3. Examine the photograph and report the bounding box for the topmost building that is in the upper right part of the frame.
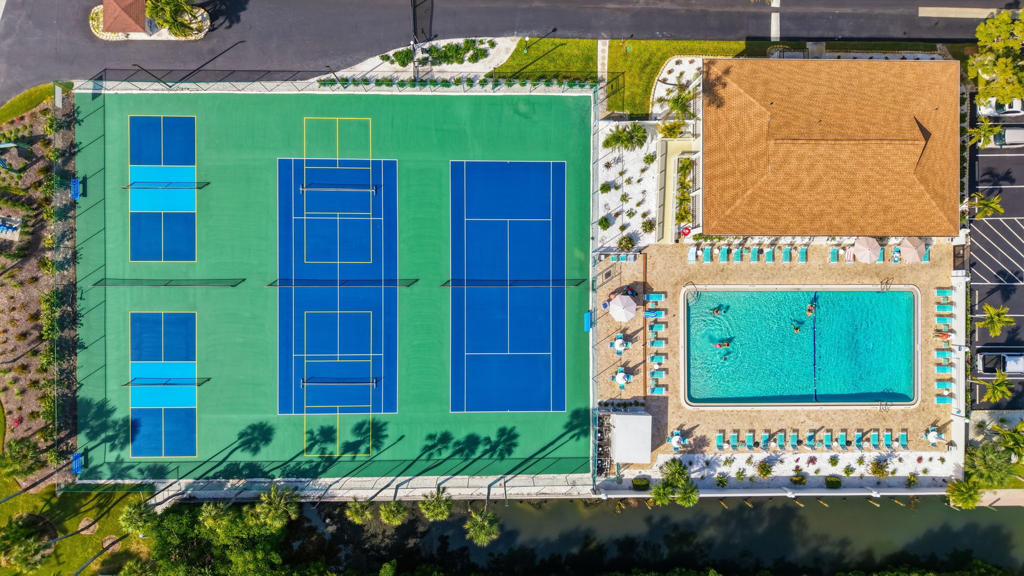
[690,58,961,237]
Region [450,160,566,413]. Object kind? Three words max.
tennis court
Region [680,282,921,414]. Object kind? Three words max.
swimming pool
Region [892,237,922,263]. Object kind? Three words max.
umbrella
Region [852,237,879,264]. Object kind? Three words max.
umbrella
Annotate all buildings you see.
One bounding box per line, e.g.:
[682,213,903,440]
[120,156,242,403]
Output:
[690,58,961,237]
[601,410,651,463]
[103,0,153,34]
